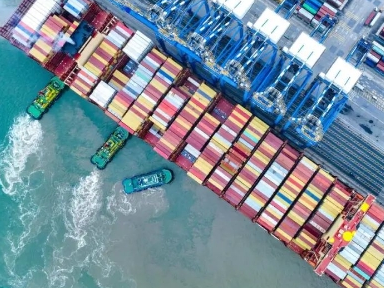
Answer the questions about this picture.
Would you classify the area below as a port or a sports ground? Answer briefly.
port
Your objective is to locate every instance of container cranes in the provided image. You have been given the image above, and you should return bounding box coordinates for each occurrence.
[203,0,304,107]
[153,0,253,85]
[114,0,212,64]
[278,35,376,149]
[248,11,341,128]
